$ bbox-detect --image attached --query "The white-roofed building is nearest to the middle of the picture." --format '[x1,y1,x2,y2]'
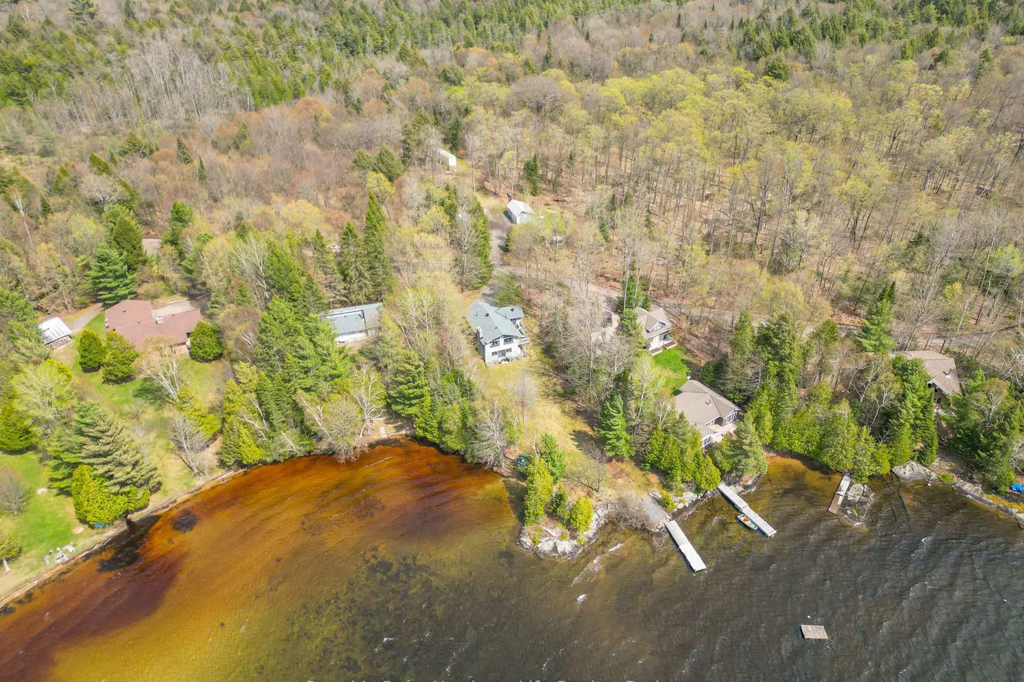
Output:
[457,301,532,366]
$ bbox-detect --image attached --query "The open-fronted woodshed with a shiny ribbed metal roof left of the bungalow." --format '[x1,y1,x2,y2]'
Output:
[40,322,75,354]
